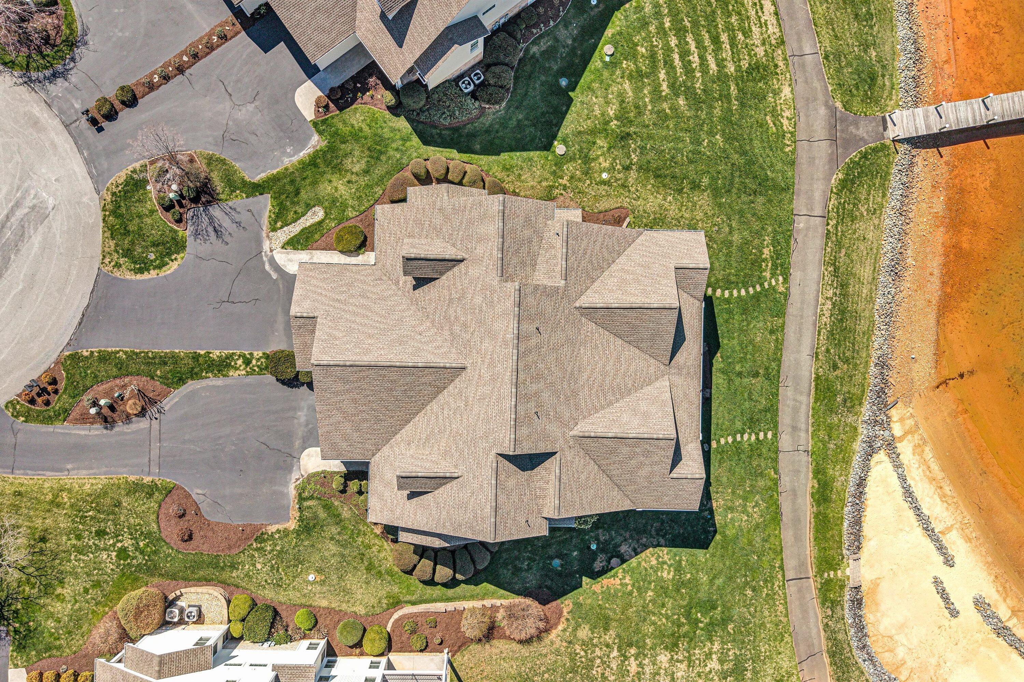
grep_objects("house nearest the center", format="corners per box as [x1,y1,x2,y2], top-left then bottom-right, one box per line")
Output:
[289,184,710,547]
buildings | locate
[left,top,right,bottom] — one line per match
[232,0,547,95]
[289,184,710,547]
[94,627,451,682]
